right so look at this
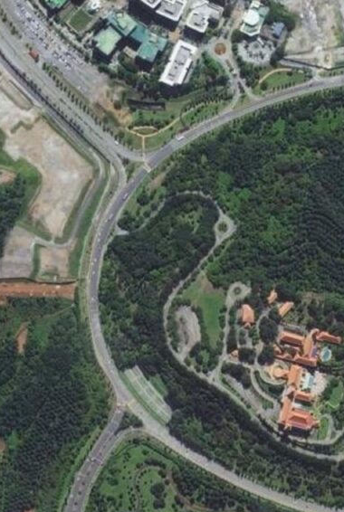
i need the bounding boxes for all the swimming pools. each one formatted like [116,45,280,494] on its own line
[321,347,332,362]
[307,373,315,389]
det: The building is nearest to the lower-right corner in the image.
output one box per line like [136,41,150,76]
[269,324,343,433]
